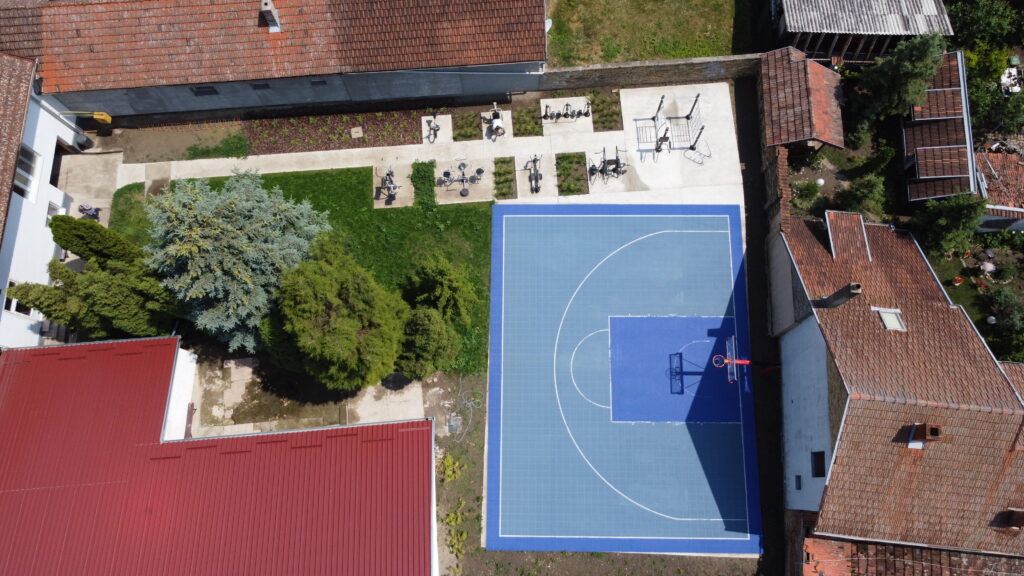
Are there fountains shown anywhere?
No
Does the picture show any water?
No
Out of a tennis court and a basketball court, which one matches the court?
basketball court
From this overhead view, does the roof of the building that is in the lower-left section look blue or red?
red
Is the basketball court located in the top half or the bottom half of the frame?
bottom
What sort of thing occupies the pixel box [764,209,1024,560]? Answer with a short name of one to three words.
house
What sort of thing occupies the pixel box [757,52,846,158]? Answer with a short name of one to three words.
shed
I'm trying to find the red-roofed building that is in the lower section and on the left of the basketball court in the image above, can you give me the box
[0,334,439,576]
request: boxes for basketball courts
[481,203,762,558]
